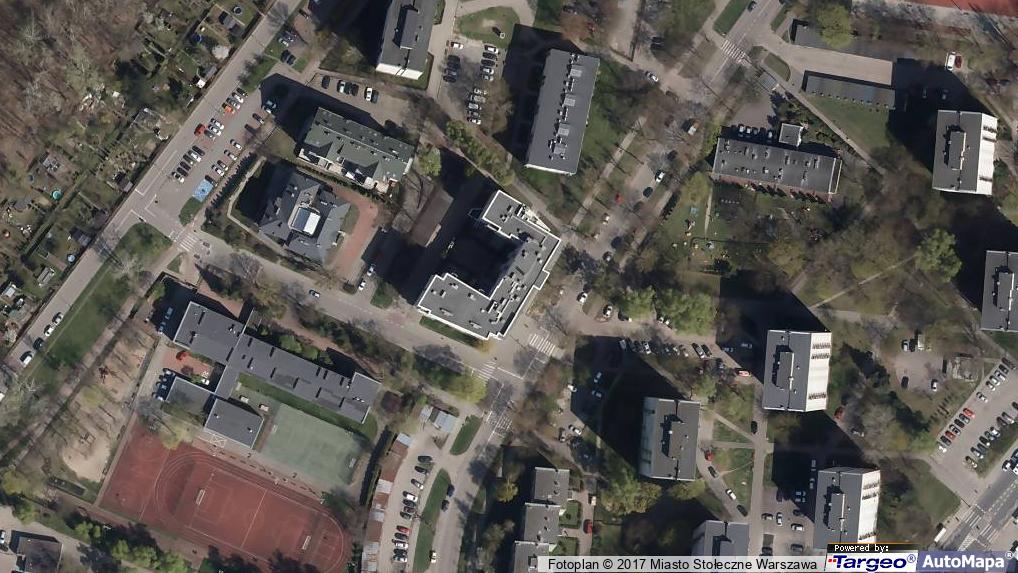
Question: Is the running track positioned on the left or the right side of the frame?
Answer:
left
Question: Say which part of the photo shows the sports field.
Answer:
bottom left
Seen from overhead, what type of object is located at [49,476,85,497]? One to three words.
shed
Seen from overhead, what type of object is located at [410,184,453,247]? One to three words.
building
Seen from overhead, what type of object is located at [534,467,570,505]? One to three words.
house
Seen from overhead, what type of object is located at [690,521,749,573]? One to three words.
building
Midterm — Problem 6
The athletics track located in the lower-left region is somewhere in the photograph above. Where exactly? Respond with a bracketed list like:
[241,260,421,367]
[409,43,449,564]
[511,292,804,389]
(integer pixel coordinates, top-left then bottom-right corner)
[99,415,346,573]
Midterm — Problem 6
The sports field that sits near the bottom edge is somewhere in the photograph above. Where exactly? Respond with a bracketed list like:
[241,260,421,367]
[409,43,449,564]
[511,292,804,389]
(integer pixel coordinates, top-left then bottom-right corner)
[160,464,338,573]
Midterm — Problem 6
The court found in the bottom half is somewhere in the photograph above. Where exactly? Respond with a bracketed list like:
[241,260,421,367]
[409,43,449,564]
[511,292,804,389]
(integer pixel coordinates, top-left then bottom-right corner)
[259,404,367,489]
